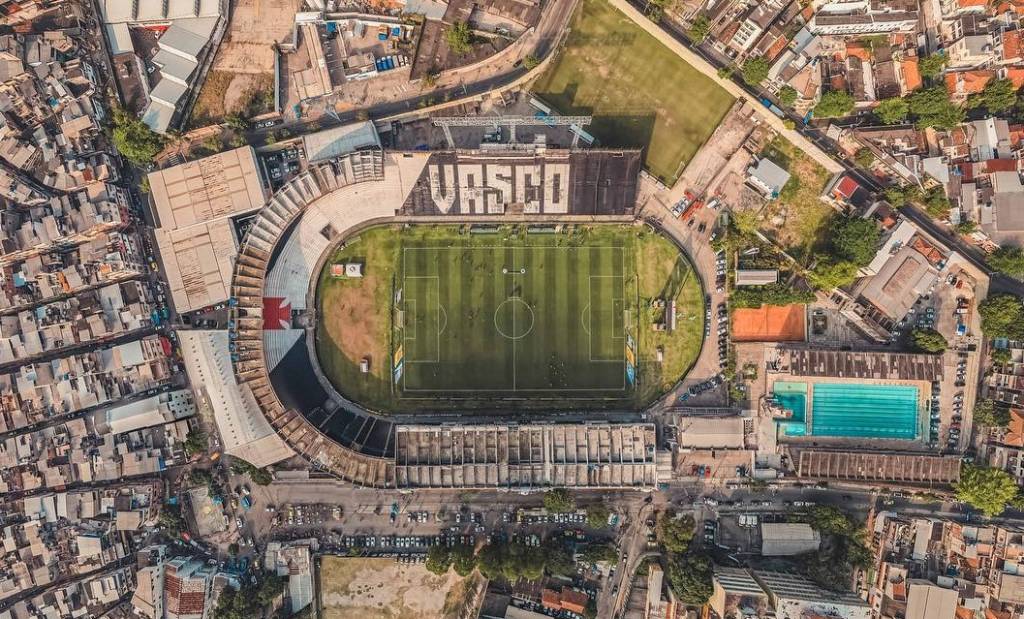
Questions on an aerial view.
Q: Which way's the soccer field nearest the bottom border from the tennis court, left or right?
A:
to its left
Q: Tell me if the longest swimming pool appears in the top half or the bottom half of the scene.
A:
bottom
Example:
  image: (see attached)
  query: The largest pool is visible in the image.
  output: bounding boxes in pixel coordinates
[768,376,932,451]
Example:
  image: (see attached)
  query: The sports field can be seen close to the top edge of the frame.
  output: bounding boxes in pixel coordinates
[534,0,736,186]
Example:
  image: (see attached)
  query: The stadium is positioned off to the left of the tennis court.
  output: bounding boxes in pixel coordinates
[228,136,708,489]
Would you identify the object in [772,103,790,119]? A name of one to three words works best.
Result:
vehicle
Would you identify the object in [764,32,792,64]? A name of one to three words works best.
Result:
house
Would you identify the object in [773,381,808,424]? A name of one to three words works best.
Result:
swimming pool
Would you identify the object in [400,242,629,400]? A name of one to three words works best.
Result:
soccer field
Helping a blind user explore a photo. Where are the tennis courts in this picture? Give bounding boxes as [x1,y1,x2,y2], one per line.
[734,304,800,341]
